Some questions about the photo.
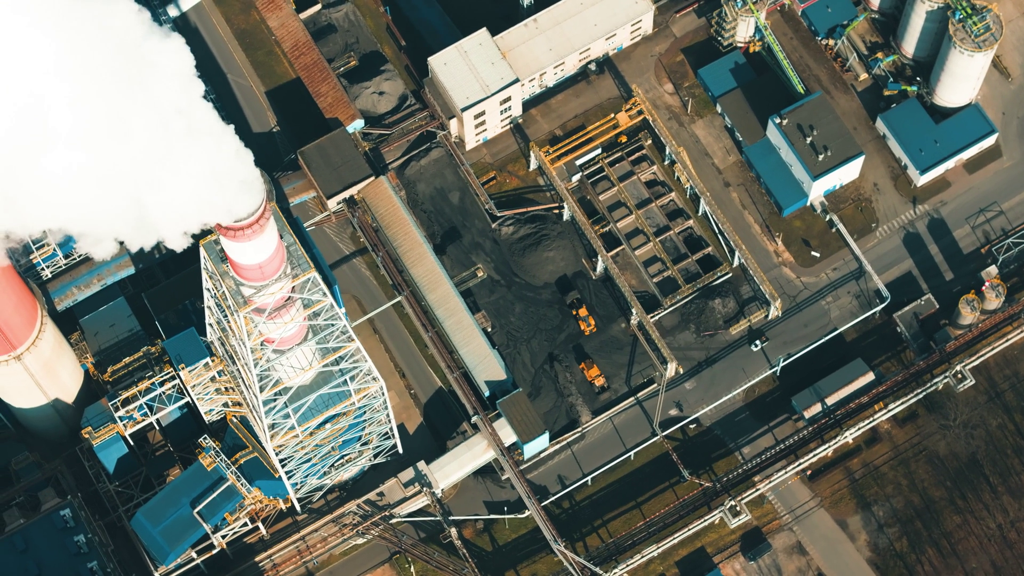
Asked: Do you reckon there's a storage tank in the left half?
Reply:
No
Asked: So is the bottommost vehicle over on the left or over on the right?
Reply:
right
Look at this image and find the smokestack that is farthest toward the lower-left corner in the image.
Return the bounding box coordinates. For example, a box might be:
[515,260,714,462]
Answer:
[0,257,84,437]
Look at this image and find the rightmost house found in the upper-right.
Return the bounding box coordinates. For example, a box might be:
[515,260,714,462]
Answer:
[873,97,1001,189]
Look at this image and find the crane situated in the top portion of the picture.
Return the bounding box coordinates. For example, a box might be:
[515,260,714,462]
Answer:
[533,85,651,171]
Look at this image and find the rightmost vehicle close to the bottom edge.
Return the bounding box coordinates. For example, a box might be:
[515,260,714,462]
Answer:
[744,540,775,566]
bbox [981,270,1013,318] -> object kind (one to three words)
storage tank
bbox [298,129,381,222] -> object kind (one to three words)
house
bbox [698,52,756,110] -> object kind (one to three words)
shed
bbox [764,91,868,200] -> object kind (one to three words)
building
